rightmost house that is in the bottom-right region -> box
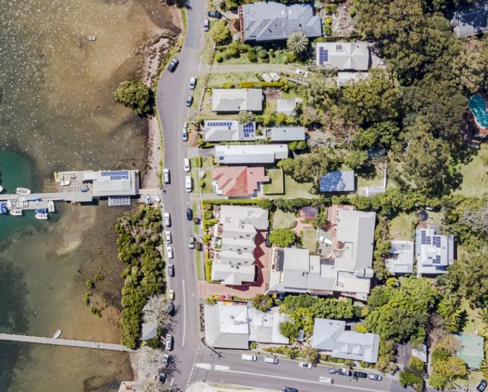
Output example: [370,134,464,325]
[451,333,485,368]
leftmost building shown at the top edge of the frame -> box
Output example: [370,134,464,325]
[237,4,323,41]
